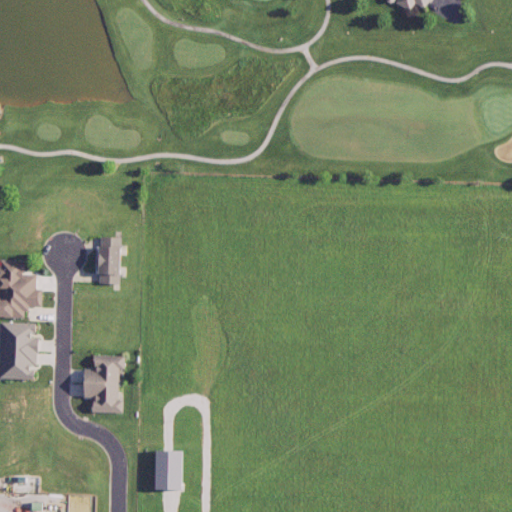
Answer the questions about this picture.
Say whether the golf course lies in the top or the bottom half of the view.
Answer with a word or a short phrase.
top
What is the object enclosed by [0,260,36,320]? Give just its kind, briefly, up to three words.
house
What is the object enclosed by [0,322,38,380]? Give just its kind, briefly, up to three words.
house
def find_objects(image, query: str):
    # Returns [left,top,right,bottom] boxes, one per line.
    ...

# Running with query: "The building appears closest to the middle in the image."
[98,232,122,290]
